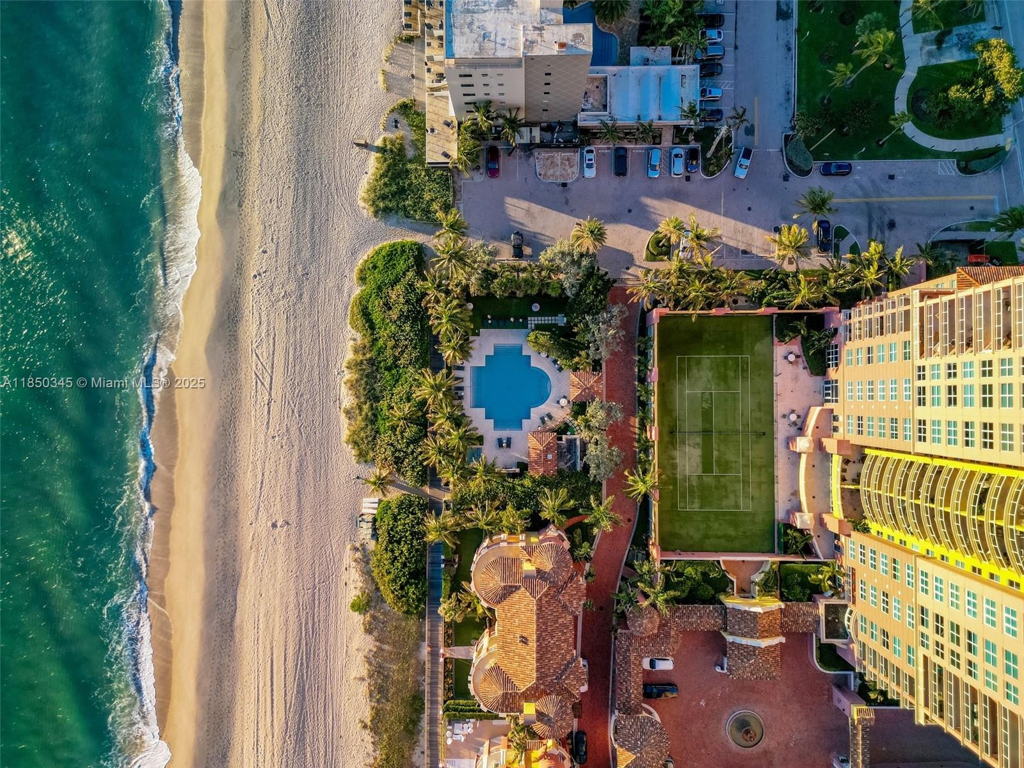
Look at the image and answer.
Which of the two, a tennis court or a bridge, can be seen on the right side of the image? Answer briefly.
tennis court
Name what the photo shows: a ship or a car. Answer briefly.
car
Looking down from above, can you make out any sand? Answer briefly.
Yes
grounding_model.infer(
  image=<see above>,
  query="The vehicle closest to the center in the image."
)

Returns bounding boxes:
[510,228,524,260]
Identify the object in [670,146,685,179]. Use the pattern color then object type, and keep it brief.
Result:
blue car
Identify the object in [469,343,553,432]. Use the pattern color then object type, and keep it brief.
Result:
blue swimming pool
